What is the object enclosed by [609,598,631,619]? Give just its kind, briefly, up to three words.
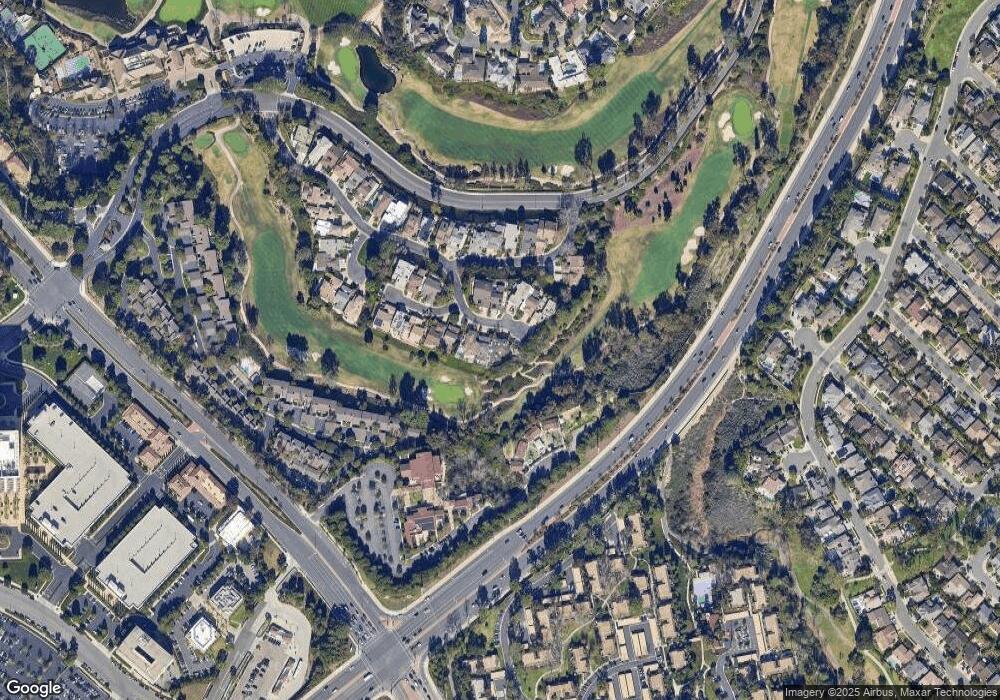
building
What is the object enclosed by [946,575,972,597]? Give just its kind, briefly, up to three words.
house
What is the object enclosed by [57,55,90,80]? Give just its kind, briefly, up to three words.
sports court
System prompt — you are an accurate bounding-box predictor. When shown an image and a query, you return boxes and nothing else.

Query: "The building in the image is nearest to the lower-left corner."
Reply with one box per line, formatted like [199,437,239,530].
[116,626,175,684]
